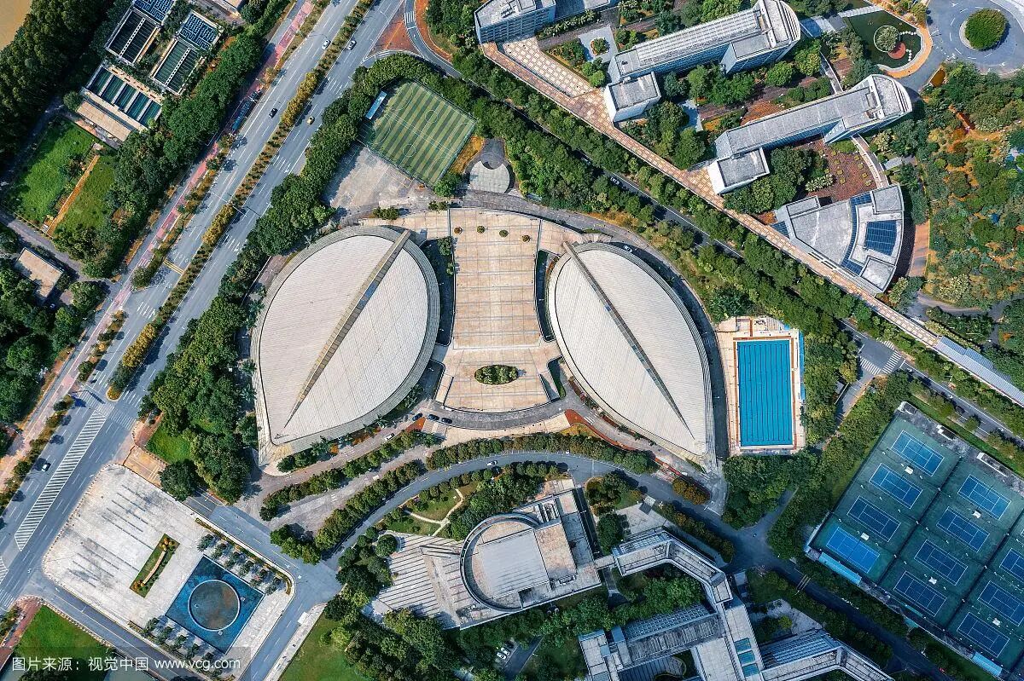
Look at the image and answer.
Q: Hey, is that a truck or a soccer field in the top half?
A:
soccer field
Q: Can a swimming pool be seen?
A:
Yes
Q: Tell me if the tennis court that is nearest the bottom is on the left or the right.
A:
right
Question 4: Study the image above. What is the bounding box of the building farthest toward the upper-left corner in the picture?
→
[76,100,136,141]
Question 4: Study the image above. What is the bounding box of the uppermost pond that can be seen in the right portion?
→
[843,0,924,72]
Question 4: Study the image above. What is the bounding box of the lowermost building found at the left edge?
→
[16,248,68,301]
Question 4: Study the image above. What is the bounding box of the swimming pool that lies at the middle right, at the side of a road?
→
[715,316,805,454]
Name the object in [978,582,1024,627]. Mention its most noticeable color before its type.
blue tennis court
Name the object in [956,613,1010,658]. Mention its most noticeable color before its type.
blue tennis court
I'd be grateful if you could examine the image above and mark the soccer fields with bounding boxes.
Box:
[362,82,475,185]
